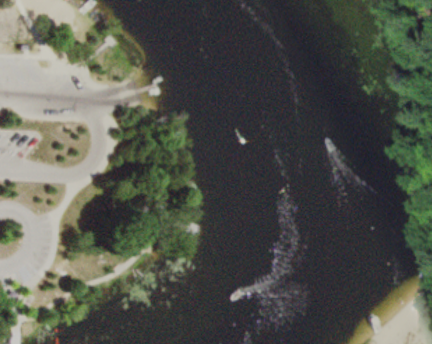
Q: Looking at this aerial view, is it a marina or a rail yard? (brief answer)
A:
marina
